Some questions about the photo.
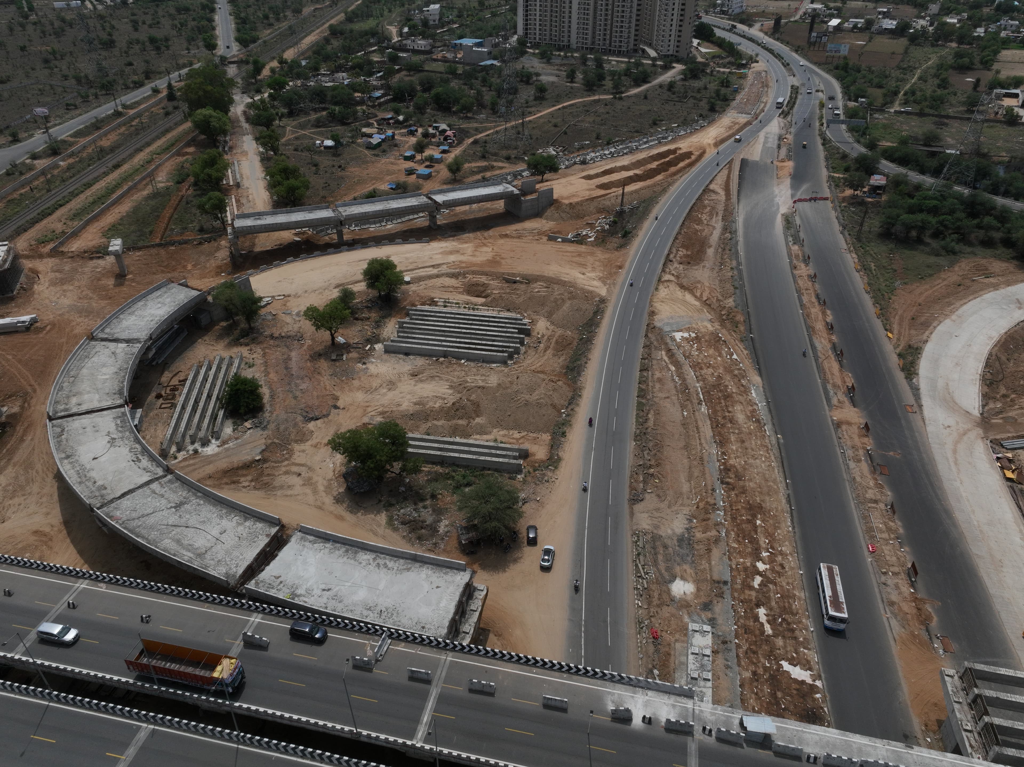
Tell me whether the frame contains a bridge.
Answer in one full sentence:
Yes, you can see a bridge in this photo.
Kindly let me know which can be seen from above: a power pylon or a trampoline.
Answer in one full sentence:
The image shows a power pylon.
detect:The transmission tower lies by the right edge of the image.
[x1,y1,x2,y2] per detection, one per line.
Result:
[922,65,1003,194]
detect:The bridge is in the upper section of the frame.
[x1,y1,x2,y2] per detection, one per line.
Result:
[234,181,514,258]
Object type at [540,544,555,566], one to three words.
car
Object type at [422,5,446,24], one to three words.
house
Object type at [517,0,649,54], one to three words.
building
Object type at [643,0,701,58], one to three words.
building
